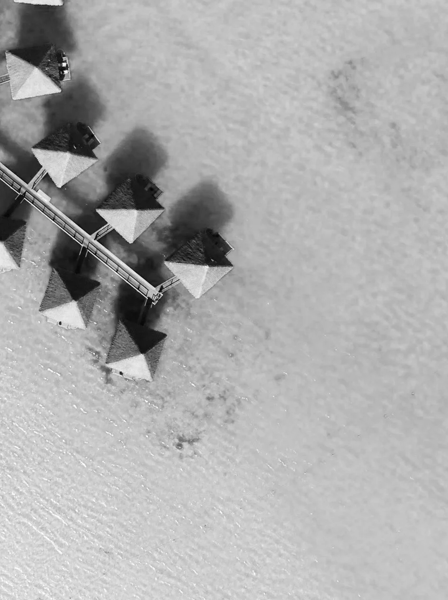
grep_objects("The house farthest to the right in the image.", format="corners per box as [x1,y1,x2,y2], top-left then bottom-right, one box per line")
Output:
[165,229,236,298]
